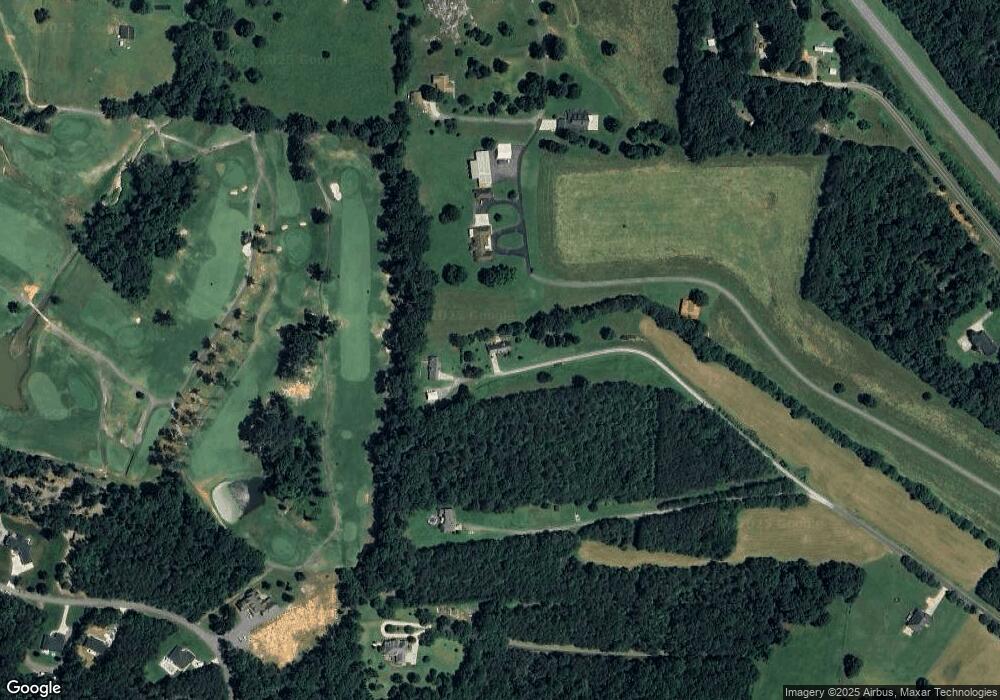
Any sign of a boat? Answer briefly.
No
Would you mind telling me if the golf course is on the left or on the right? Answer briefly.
left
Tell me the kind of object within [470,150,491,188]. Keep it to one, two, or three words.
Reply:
barn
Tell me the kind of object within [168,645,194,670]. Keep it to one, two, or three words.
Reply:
house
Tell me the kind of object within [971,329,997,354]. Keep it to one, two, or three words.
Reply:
house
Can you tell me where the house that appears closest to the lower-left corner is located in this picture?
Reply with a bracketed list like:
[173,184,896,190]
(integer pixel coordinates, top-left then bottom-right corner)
[41,634,64,650]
